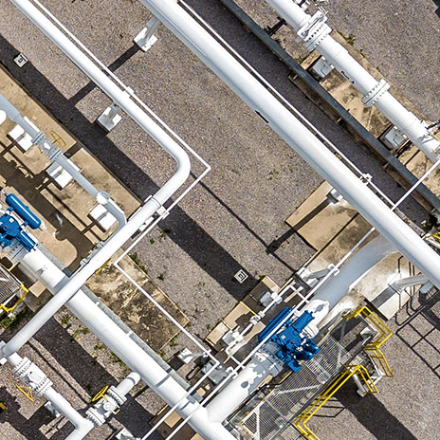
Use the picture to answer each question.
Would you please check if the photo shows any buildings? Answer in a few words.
No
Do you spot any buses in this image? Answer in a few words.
No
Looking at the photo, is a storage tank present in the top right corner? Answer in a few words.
No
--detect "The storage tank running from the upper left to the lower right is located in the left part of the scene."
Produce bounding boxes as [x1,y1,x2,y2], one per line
[0,191,43,230]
